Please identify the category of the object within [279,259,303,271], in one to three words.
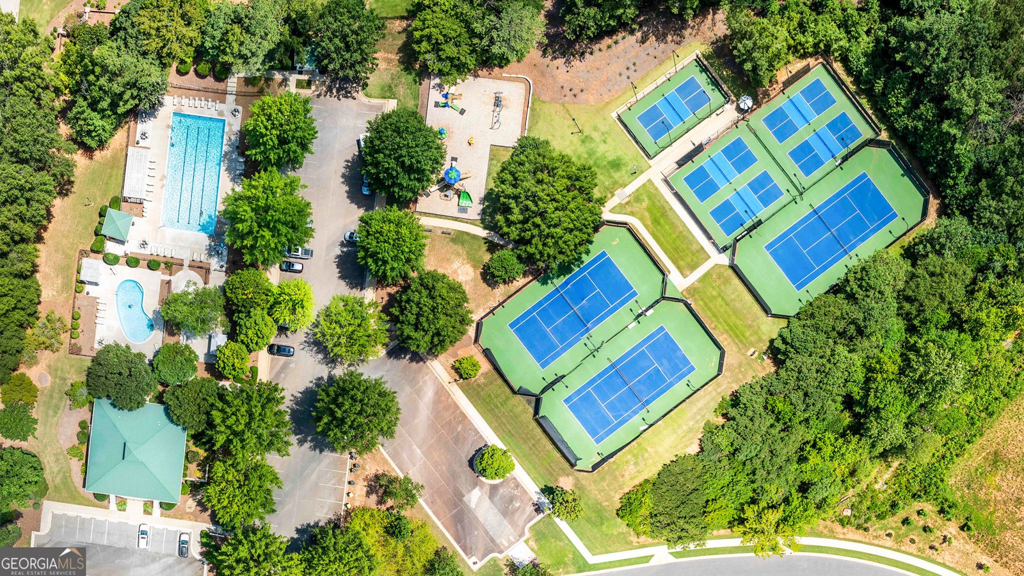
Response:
vehicle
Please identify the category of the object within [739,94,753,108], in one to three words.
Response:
umbrella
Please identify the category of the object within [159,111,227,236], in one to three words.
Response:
swimming pool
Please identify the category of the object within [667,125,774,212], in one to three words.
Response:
sports court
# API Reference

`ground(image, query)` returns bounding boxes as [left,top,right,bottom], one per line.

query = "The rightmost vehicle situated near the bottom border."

[176,532,190,559]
